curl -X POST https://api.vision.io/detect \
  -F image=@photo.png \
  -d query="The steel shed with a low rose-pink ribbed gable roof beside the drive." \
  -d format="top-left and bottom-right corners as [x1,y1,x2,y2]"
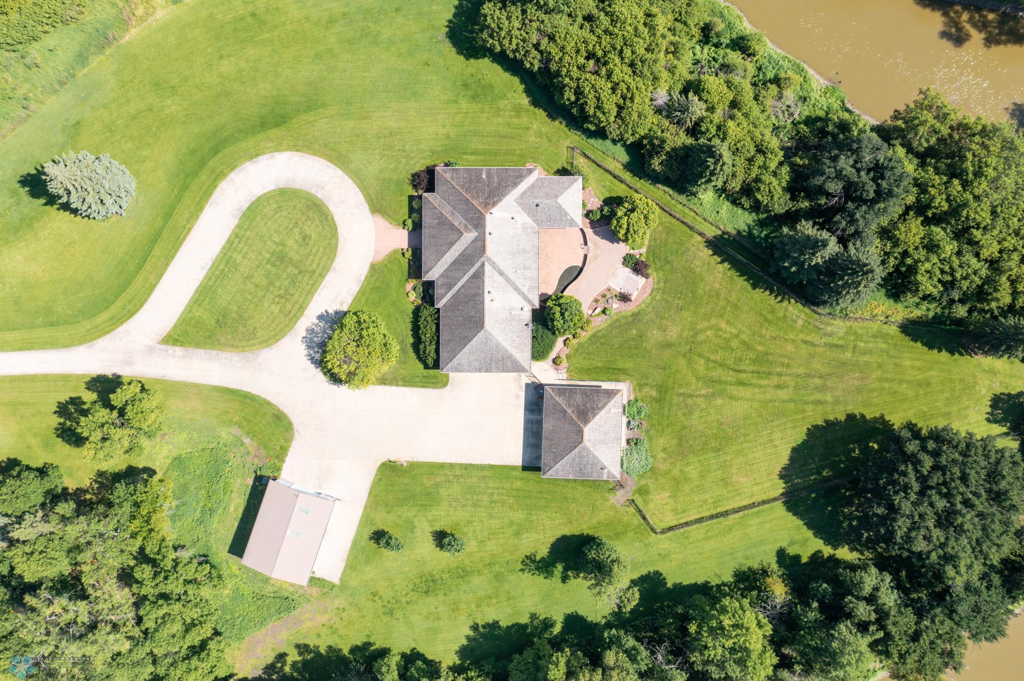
[241,476,339,586]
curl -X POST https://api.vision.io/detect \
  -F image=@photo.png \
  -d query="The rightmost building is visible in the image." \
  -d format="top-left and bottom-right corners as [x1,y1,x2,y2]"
[541,386,624,481]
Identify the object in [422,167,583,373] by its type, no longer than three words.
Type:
house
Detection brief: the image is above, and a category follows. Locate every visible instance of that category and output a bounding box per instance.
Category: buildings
[541,386,624,481]
[241,476,339,586]
[422,167,583,373]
